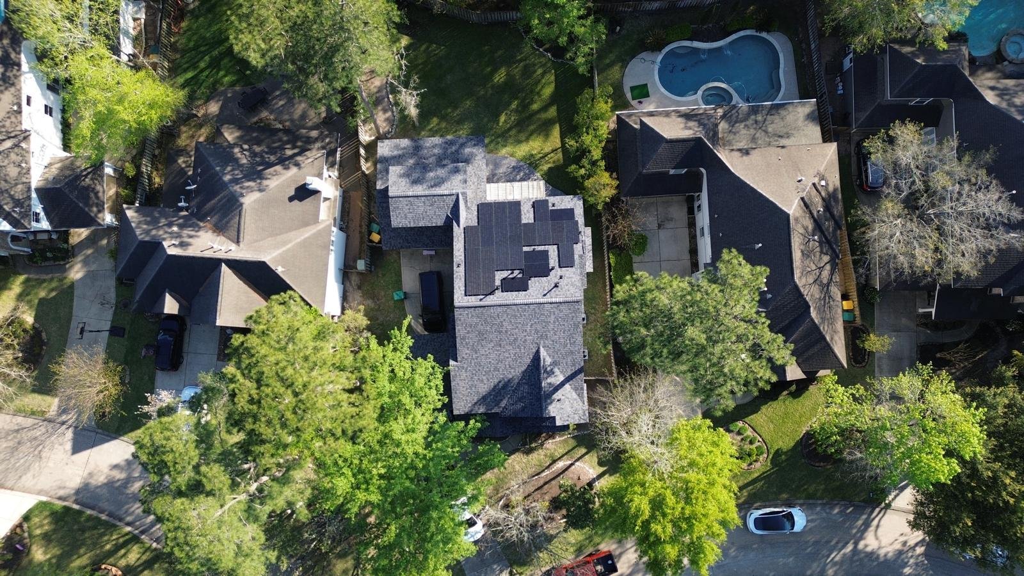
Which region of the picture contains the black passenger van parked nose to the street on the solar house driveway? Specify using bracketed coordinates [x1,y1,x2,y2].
[418,270,448,334]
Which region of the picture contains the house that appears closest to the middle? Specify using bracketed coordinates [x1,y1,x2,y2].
[376,136,593,440]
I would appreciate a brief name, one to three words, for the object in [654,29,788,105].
swimming pool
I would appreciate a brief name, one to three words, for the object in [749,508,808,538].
car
